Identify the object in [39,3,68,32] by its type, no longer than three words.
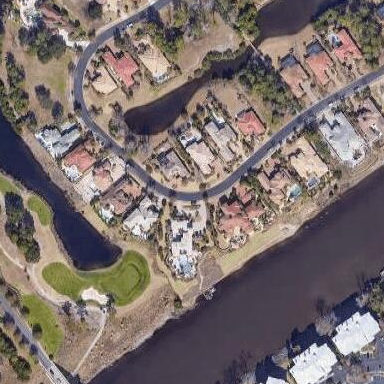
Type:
house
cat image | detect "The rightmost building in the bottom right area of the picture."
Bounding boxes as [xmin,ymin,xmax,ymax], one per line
[332,312,380,356]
